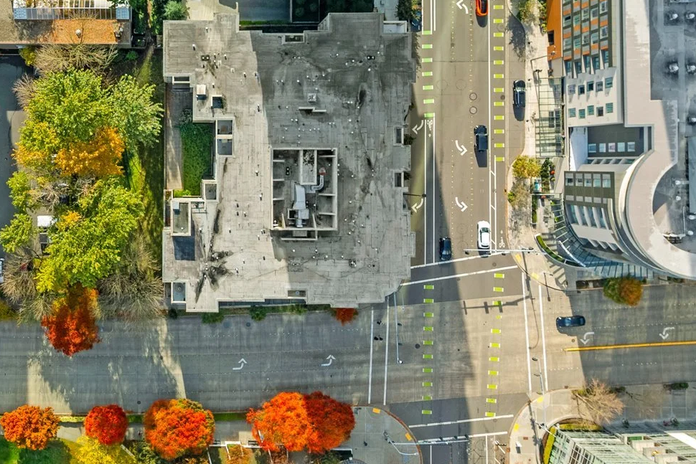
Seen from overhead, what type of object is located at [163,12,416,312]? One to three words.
building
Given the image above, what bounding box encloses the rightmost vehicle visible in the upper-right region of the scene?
[512,82,527,109]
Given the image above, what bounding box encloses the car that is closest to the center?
[438,235,452,263]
